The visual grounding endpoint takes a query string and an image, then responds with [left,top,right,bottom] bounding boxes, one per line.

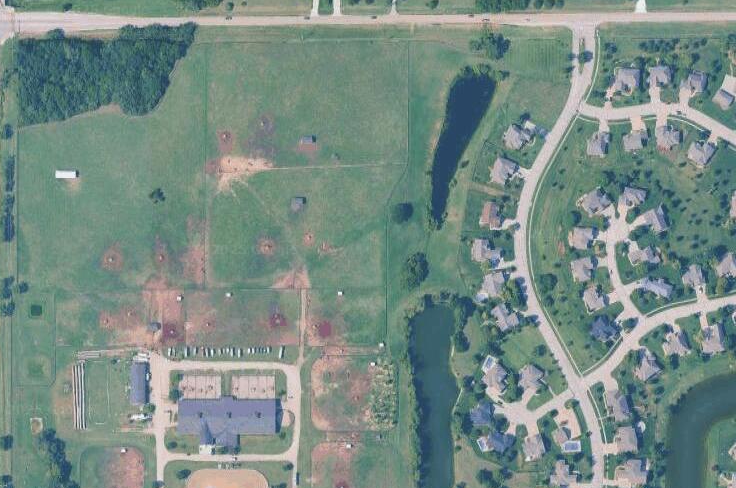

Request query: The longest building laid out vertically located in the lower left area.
[130,362,146,405]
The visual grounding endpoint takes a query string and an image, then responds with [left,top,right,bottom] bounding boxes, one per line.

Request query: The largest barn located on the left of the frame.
[178,394,276,455]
